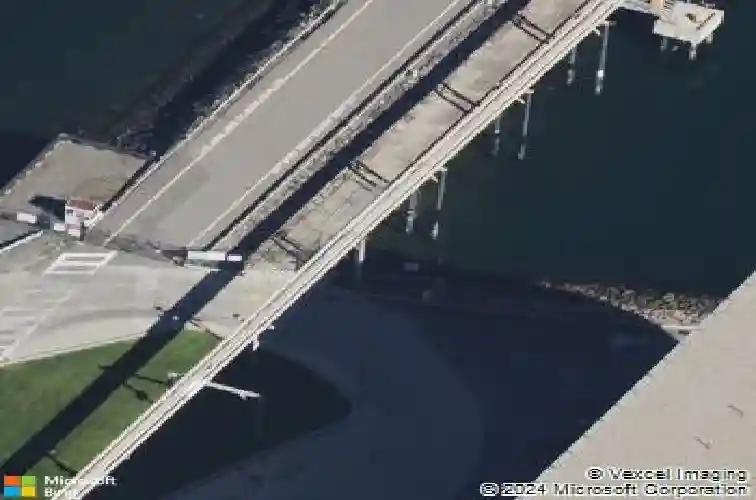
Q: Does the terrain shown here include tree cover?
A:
No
